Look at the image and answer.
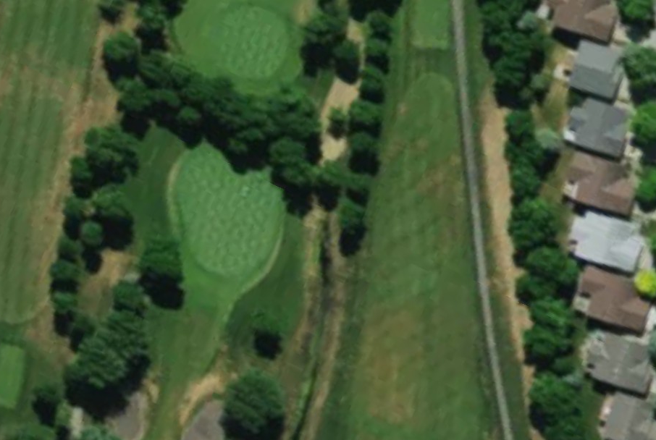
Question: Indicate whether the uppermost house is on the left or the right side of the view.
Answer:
right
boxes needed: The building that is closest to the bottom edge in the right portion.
[603,394,656,440]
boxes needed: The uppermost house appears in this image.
[544,0,620,48]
